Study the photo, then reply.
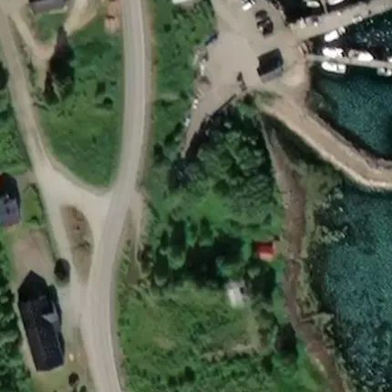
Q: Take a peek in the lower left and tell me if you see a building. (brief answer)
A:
Yes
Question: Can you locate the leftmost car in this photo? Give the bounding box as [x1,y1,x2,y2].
[204,32,218,46]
